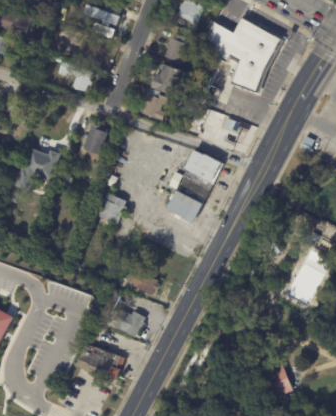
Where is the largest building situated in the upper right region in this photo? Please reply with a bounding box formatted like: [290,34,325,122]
[208,20,283,91]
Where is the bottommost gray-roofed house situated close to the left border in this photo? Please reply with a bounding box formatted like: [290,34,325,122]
[16,150,58,190]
